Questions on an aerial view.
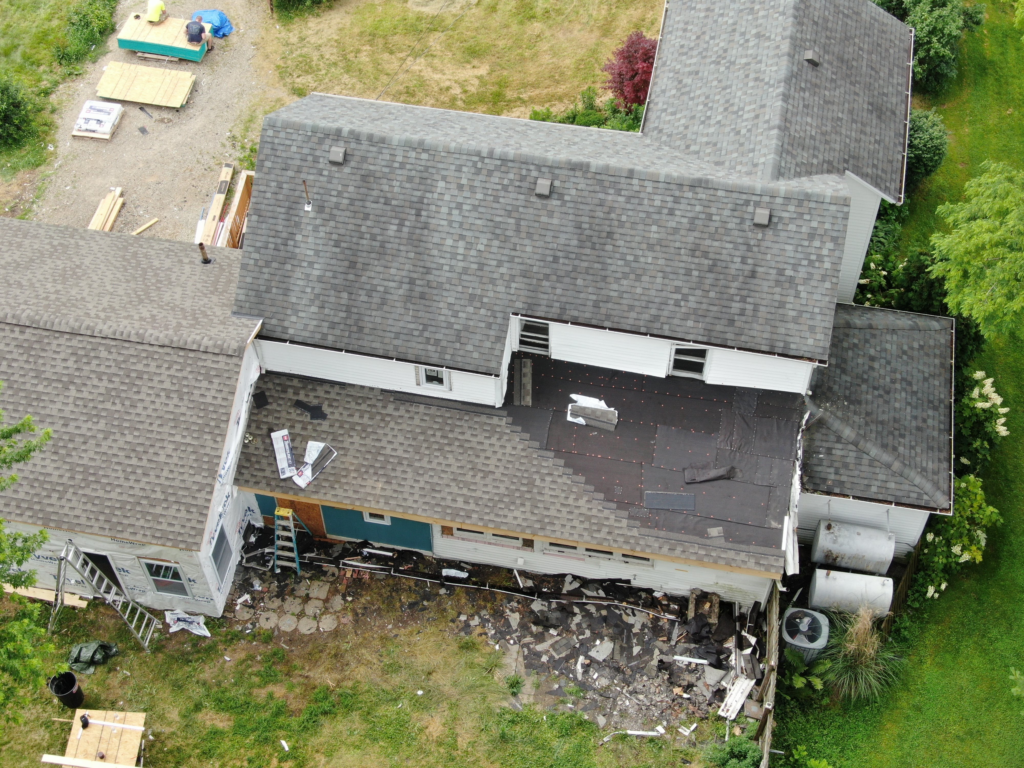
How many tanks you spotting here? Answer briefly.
2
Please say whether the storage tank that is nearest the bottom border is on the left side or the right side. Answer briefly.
right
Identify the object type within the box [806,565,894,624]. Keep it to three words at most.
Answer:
storage tank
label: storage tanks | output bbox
[811,505,897,575]
[806,565,894,624]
